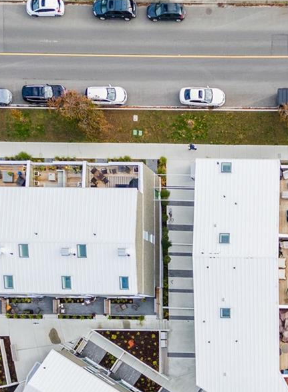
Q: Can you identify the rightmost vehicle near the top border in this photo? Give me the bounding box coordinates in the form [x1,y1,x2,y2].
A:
[146,1,186,23]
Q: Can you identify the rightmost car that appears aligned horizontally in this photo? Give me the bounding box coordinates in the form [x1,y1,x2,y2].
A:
[181,87,225,107]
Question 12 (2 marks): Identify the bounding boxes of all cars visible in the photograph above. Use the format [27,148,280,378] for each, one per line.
[21,82,66,105]
[181,87,225,107]
[0,89,14,106]
[93,0,138,21]
[27,0,67,19]
[85,84,129,106]
[146,1,186,23]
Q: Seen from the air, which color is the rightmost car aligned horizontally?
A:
white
